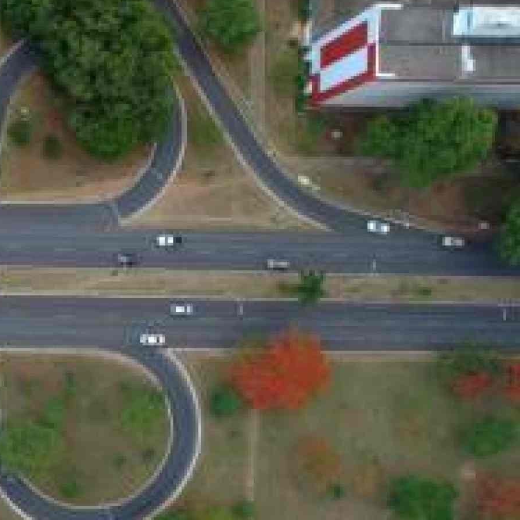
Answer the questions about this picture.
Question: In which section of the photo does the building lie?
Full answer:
The building appears toward the top right of the photo.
